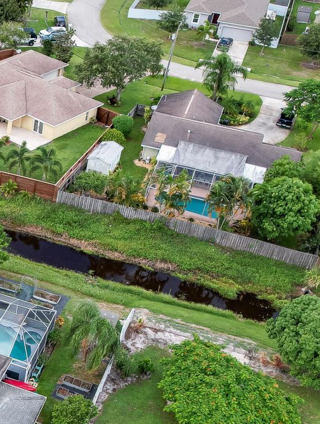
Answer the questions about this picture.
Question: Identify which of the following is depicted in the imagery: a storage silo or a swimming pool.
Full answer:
There is a swimming pool in the scene.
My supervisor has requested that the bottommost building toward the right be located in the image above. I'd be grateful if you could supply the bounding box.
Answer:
[136,89,312,188]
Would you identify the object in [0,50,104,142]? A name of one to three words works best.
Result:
house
